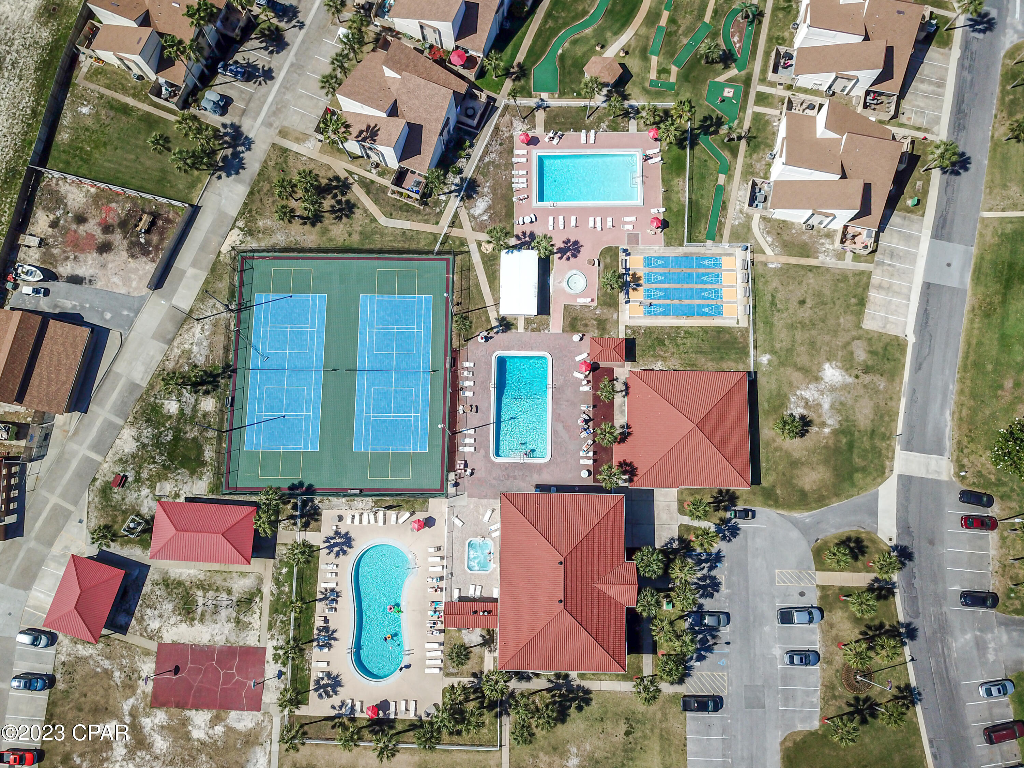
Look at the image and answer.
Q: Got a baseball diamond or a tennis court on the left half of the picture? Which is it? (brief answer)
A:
tennis court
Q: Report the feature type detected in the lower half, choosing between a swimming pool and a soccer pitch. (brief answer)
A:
swimming pool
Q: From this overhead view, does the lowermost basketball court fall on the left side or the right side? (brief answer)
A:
left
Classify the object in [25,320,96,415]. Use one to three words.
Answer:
shed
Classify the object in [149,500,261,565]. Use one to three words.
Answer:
building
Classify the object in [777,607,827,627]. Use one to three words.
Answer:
vehicle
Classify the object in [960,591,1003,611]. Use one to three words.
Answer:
car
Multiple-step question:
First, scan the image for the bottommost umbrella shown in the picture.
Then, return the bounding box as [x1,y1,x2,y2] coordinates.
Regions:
[365,703,380,718]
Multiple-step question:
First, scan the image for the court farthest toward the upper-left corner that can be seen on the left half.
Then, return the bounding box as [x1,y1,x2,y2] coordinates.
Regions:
[222,255,453,498]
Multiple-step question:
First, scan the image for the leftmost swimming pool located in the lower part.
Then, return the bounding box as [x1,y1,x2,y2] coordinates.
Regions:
[348,538,415,685]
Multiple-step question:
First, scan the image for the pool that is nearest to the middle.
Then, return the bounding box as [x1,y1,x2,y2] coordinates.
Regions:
[490,351,553,463]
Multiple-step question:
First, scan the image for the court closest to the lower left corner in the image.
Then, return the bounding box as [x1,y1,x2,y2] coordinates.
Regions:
[151,643,266,712]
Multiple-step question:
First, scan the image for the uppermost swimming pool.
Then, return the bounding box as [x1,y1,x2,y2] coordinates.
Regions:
[532,149,644,207]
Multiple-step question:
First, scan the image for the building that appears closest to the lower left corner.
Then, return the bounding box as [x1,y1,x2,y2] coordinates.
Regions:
[42,554,131,644]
